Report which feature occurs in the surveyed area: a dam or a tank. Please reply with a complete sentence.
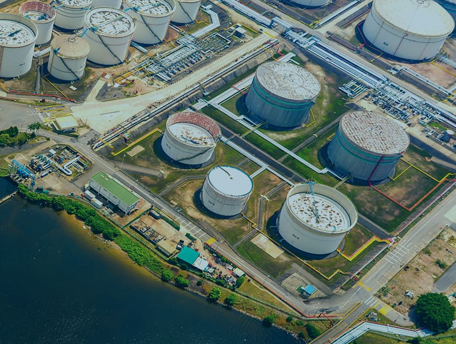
There is a tank in the scene.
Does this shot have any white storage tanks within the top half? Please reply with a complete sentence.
Yes, a white storage tank is visible within the top half.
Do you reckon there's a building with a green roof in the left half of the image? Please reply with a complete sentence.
Yes, a building with a green roof appears in the left half of the image.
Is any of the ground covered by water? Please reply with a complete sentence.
Yes, some water is visible.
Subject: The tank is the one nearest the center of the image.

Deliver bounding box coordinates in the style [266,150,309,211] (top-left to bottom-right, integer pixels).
[196,163,254,219]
